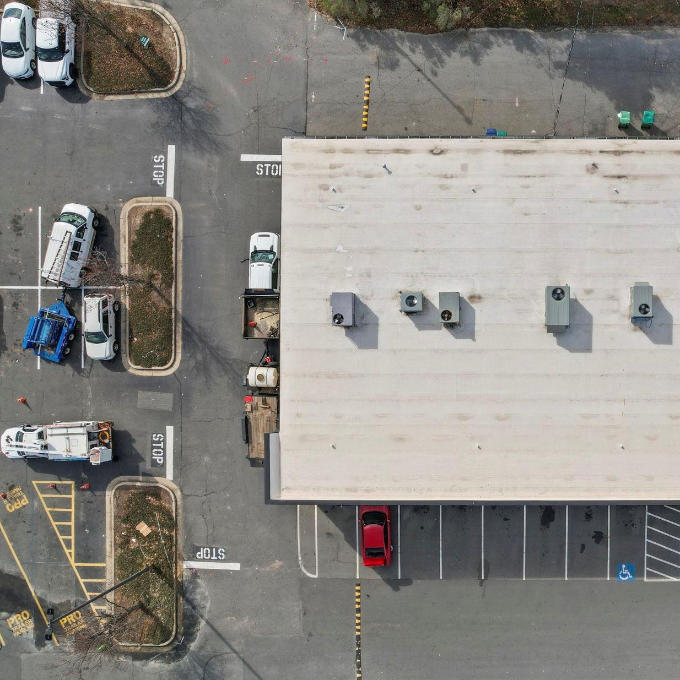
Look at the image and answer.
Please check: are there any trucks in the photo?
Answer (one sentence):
Yes, there's a truck here.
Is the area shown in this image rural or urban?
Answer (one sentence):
It looks urban.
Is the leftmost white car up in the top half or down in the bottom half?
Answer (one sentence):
The leftmost white car is in the top half of the image.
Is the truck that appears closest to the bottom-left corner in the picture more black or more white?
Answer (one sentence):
The truck that appears closest to the bottom-left corner is white.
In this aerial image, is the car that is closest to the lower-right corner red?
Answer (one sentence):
Yes, red is the color of the car that is closest to the lower-right corner.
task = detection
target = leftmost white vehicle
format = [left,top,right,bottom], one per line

[0,6,36,79]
